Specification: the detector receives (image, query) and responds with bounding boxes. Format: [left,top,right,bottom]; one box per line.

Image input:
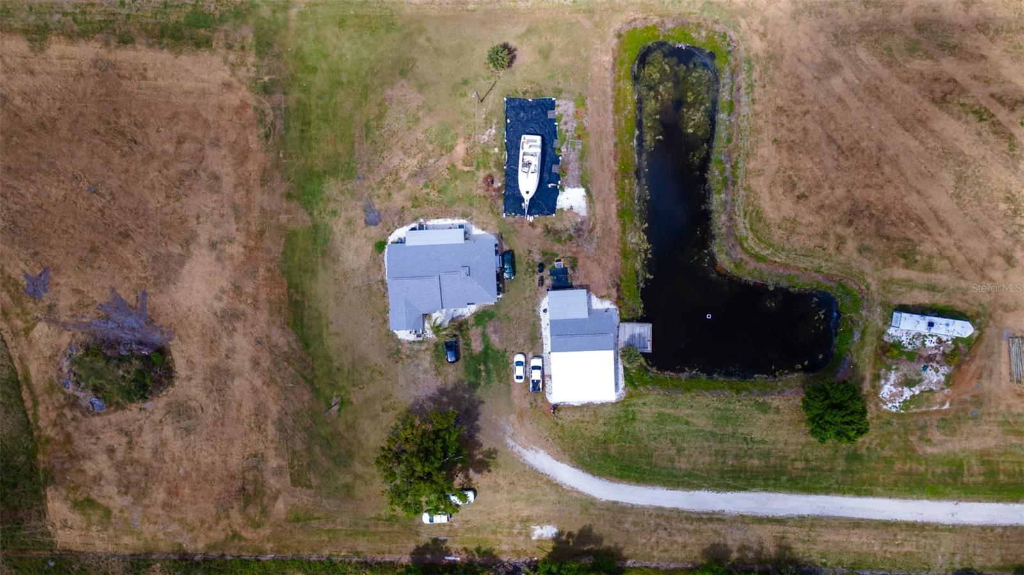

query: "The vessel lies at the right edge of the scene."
[892,311,974,337]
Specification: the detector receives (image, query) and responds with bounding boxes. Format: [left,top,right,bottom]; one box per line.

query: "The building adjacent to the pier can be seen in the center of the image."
[548,289,616,405]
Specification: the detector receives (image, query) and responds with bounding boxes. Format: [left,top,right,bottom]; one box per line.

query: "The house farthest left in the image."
[387,229,497,330]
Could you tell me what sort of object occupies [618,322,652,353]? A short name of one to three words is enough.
pier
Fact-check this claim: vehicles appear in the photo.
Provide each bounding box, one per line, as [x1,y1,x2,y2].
[502,249,516,280]
[422,511,450,526]
[448,488,476,505]
[529,356,544,394]
[512,353,526,384]
[444,339,458,364]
